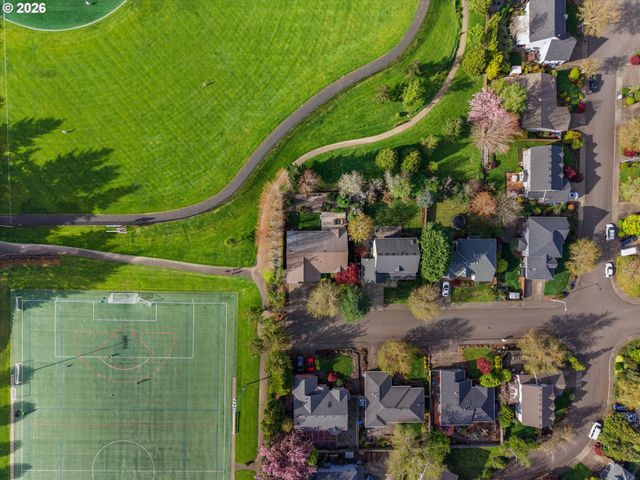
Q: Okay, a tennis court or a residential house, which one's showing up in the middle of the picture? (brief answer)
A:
residential house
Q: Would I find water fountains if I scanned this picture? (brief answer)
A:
No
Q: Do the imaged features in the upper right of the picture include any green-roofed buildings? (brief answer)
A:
No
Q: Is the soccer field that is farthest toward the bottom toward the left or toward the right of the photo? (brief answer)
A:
left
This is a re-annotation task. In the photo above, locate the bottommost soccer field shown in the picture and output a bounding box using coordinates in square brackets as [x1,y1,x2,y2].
[8,290,238,480]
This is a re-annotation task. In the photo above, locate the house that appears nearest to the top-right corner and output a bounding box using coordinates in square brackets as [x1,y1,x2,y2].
[521,0,578,66]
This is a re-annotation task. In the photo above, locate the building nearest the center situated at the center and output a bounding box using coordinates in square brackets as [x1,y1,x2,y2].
[286,211,349,284]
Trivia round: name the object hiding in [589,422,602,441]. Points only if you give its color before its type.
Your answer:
white vehicle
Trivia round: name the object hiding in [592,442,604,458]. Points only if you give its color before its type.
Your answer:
red vehicle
